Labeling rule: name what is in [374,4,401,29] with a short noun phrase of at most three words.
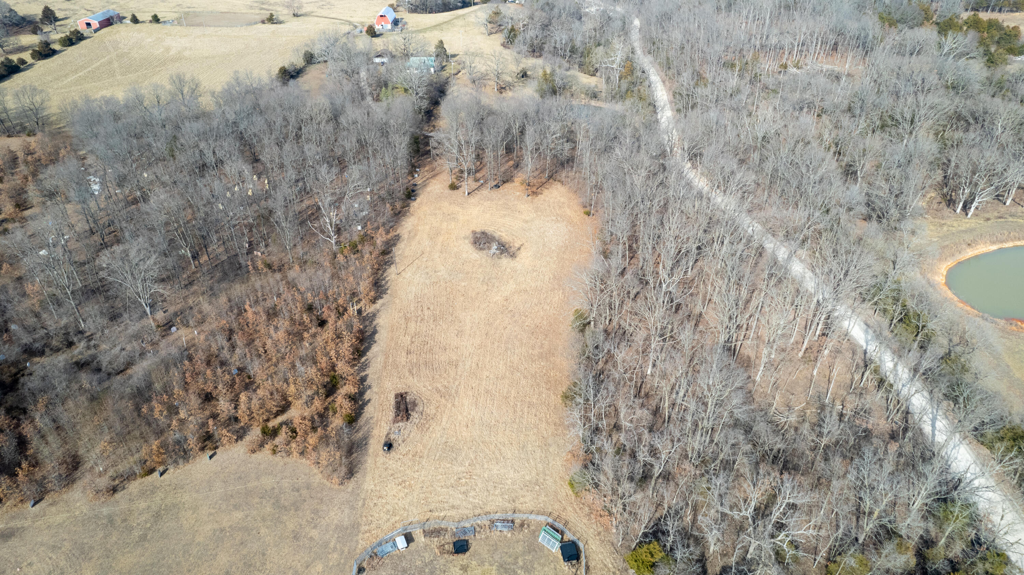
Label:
barn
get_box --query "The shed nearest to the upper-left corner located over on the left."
[76,8,114,36]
